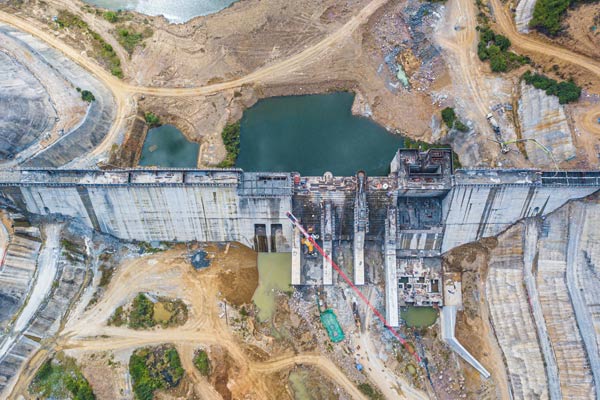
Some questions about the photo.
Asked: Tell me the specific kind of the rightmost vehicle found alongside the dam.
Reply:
truck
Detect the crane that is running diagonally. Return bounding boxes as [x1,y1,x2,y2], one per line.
[287,211,438,371]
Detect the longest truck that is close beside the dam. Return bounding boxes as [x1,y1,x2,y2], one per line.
[493,129,558,178]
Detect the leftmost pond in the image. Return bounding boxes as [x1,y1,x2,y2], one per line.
[141,124,200,167]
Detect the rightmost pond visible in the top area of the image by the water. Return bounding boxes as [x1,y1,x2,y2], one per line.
[236,93,404,176]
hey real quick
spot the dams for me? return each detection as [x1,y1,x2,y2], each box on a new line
[0,149,600,327]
